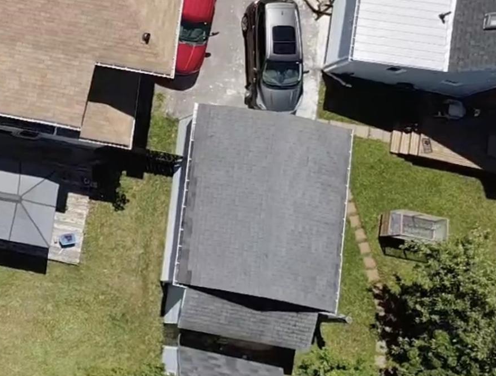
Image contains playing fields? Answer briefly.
No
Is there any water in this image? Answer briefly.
No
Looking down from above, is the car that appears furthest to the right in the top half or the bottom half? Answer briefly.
top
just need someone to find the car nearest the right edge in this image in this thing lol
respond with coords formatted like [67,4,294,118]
[245,0,308,113]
